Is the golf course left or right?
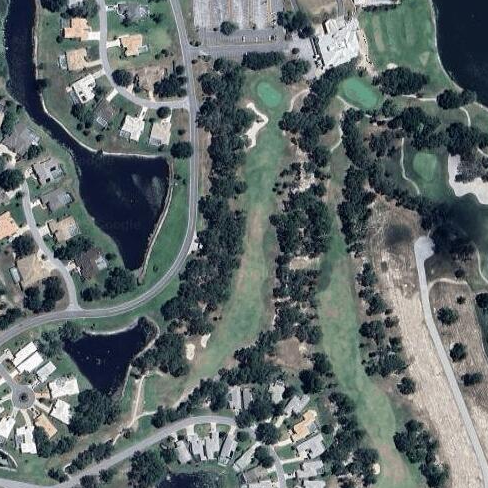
right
